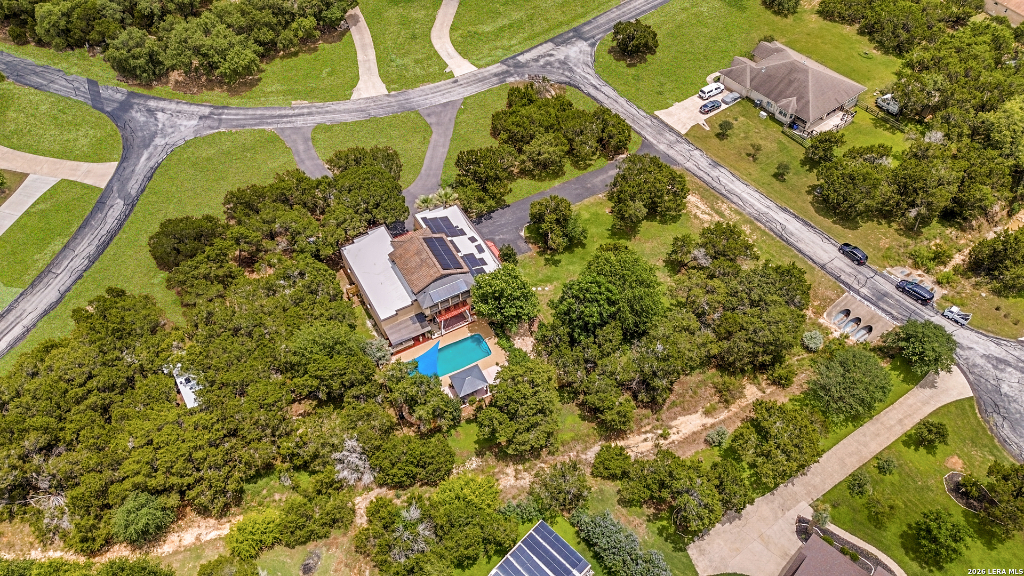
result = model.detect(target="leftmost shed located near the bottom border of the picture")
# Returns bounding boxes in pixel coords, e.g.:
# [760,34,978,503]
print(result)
[490,520,593,576]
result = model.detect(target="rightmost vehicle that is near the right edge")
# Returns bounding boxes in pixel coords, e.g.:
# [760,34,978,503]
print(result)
[944,305,973,326]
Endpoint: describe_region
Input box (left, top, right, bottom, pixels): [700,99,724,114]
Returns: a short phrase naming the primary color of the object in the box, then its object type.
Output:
gray car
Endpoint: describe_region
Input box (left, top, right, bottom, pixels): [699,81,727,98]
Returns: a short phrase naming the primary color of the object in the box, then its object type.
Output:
white vehicle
